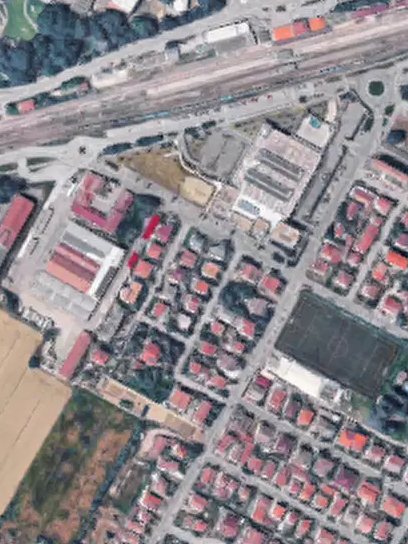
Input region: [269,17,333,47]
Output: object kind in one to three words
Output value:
train station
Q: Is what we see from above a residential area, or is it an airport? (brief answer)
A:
residential area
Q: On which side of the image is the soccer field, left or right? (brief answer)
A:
right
